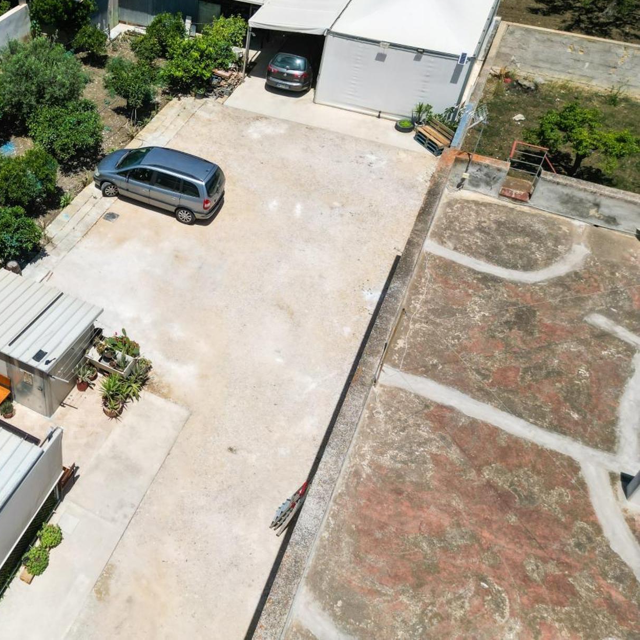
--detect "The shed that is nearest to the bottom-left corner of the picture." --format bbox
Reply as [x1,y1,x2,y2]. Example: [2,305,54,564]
[0,268,104,427]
